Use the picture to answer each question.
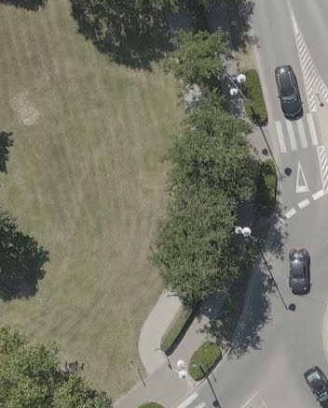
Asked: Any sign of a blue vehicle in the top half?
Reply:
No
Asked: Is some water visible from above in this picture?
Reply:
No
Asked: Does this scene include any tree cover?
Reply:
Yes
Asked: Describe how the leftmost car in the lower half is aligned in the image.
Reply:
vertically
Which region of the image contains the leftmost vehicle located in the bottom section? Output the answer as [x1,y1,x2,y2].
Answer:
[287,247,312,295]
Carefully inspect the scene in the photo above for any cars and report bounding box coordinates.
[302,364,328,408]
[274,63,305,123]
[287,247,312,295]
